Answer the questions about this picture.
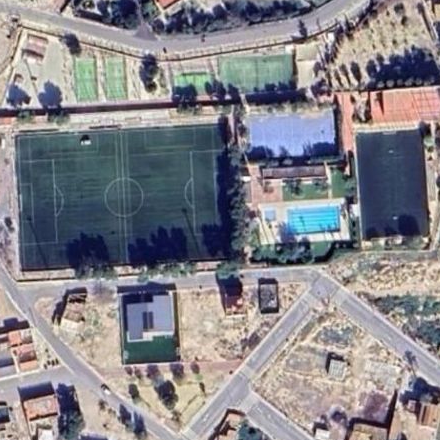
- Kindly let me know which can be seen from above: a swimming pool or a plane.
swimming pool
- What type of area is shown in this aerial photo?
sports ground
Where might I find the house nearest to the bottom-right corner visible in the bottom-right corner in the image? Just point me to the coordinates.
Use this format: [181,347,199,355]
[407,401,440,429]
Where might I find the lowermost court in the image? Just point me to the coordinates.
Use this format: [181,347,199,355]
[248,110,337,158]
